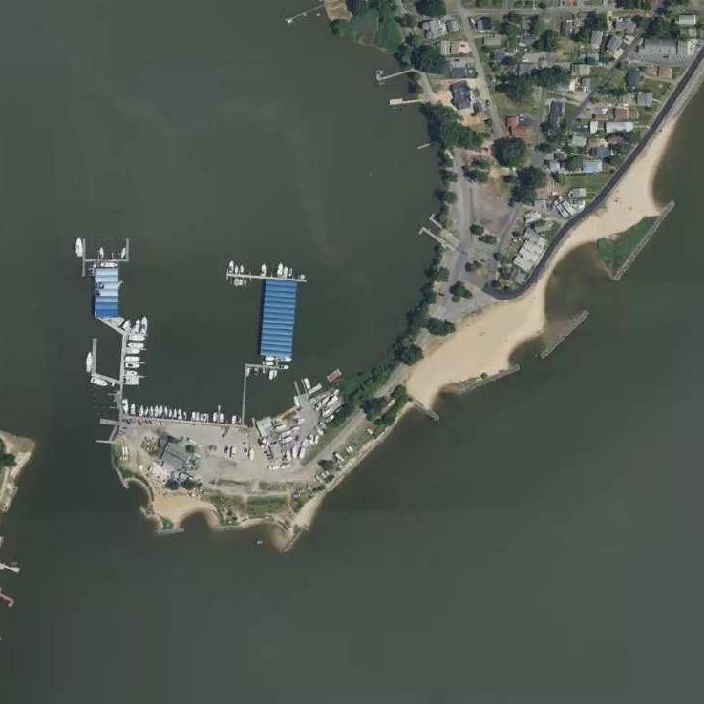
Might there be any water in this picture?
Yes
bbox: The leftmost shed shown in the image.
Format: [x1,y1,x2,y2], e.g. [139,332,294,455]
[94,267,119,317]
